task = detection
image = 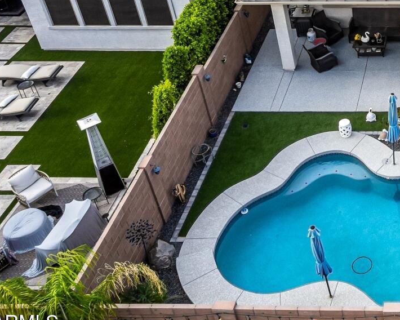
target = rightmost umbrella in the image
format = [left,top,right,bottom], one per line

[383,92,400,165]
